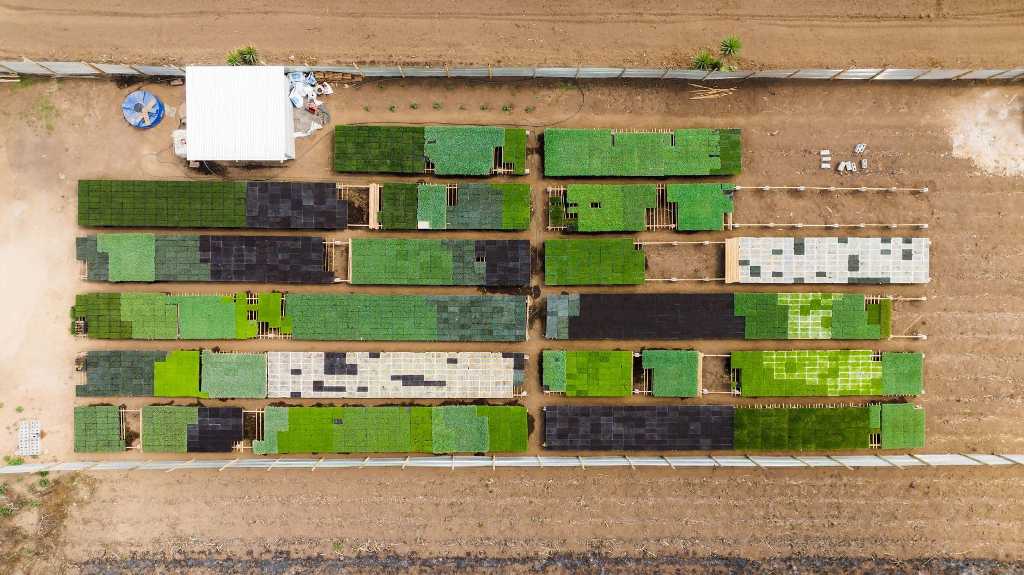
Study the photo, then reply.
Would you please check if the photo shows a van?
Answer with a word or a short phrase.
No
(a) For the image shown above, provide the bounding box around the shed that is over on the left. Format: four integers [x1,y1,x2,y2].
[186,66,295,163]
